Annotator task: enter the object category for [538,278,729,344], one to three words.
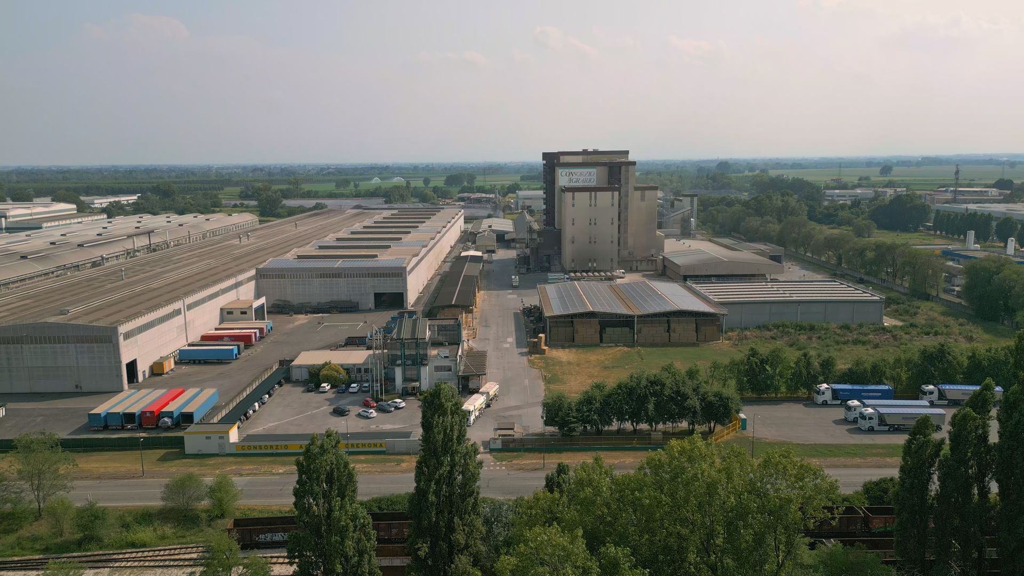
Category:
barn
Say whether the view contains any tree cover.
Yes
